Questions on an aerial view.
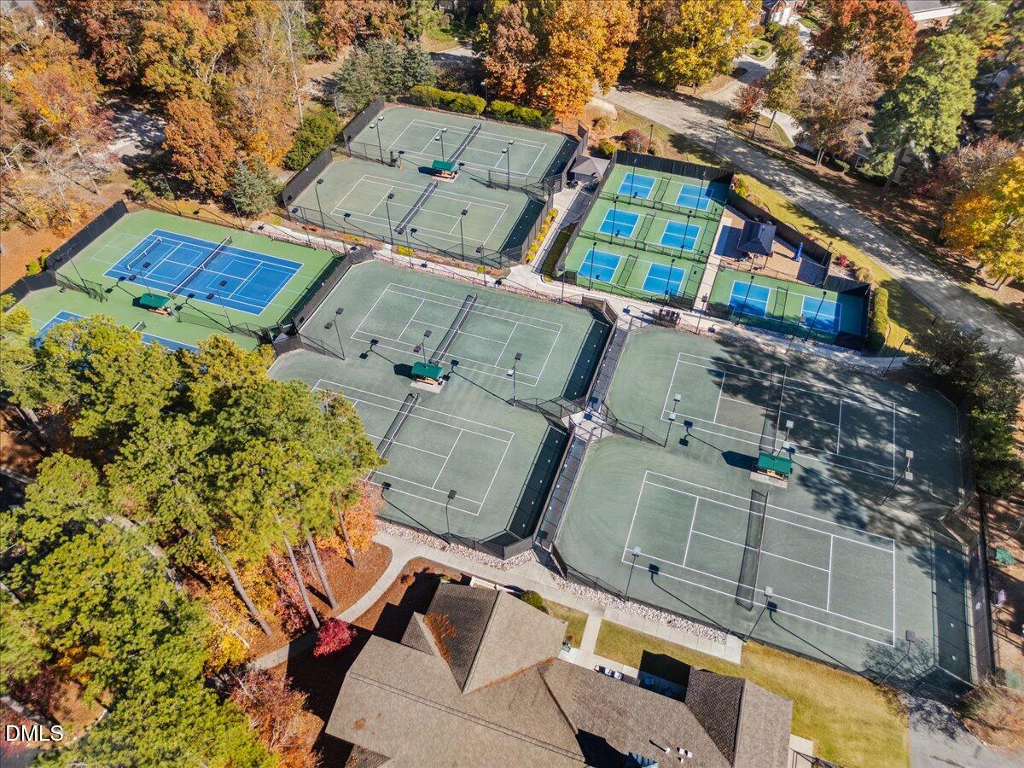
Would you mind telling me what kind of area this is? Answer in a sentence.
What you see here is a sports ground.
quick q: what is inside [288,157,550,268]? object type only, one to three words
tennis court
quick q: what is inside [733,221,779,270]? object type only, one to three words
building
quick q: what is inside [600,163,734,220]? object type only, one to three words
sports court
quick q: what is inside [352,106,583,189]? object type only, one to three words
tennis court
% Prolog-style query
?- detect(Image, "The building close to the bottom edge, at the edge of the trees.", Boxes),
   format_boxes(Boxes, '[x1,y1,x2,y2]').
[326,579,792,768]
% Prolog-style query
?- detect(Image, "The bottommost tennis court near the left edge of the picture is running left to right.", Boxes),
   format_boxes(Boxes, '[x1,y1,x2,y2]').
[0,285,266,417]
